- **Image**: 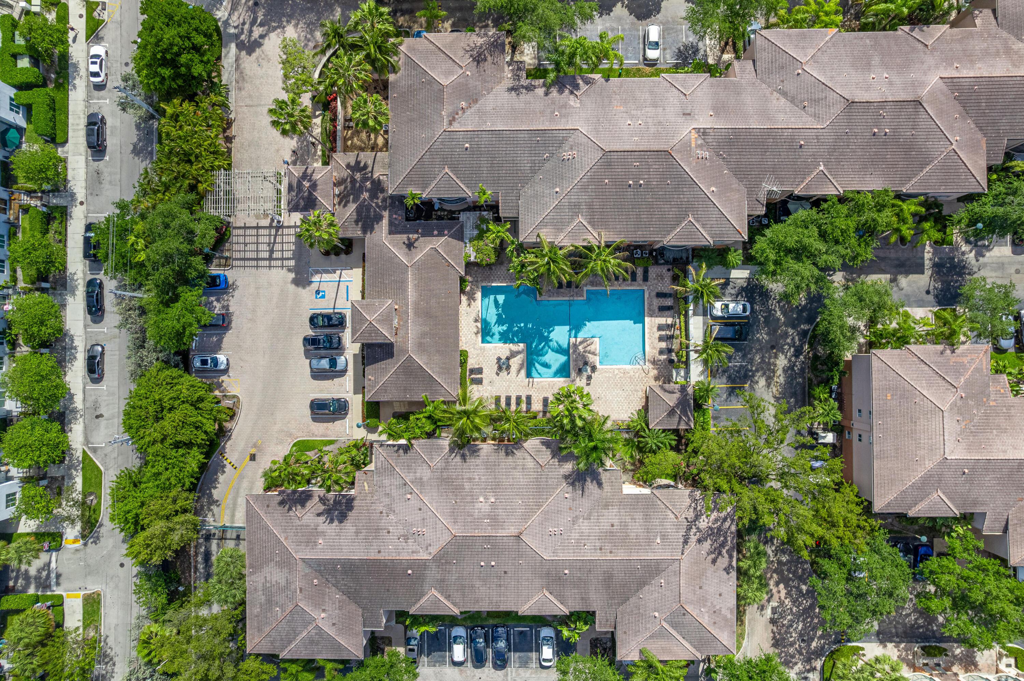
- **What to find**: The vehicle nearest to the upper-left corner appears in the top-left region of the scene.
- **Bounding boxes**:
[88,46,109,86]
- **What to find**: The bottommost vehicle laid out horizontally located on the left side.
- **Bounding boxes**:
[310,397,349,416]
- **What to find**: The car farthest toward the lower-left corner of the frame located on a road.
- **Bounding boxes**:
[85,342,107,380]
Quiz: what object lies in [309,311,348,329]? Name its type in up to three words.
car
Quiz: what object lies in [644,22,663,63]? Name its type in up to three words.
car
